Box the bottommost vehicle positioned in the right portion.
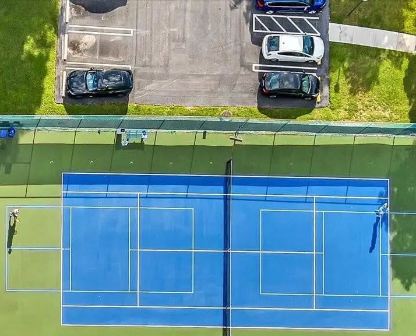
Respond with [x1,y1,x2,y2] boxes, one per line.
[265,69,323,100]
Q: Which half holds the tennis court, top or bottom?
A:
bottom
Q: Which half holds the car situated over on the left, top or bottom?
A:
top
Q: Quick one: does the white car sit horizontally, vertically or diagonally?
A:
horizontally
